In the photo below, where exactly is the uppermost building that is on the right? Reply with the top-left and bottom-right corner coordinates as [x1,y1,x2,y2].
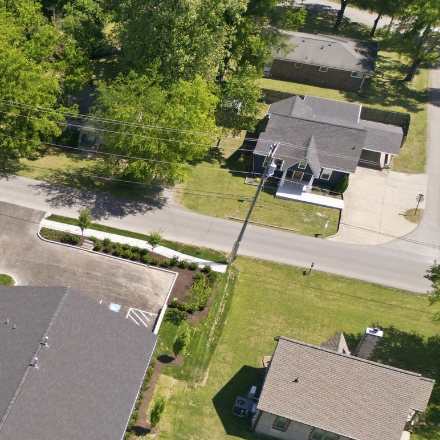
[255,27,382,93]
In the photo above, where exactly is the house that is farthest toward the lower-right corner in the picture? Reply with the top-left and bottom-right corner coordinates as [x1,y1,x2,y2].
[251,317,432,440]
